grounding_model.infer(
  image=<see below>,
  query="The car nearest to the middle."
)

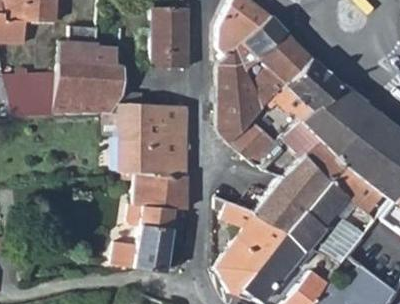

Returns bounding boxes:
[216,182,240,198]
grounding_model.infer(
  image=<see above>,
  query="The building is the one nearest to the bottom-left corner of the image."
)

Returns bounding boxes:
[108,242,135,270]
